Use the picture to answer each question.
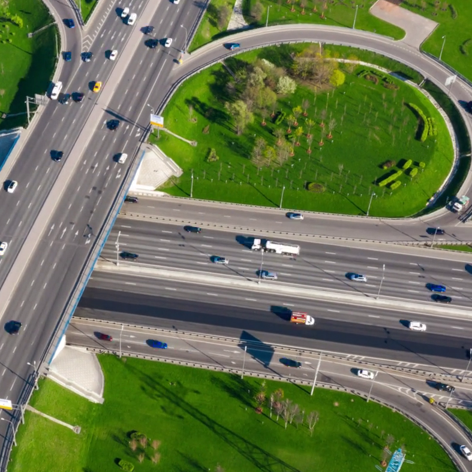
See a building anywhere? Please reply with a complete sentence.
No, the picture doesn't show any building.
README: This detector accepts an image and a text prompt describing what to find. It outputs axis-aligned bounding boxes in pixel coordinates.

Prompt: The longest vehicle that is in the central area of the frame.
[249,239,300,257]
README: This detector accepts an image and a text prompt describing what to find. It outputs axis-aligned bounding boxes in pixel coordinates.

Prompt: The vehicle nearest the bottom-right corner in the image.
[459,445,472,461]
